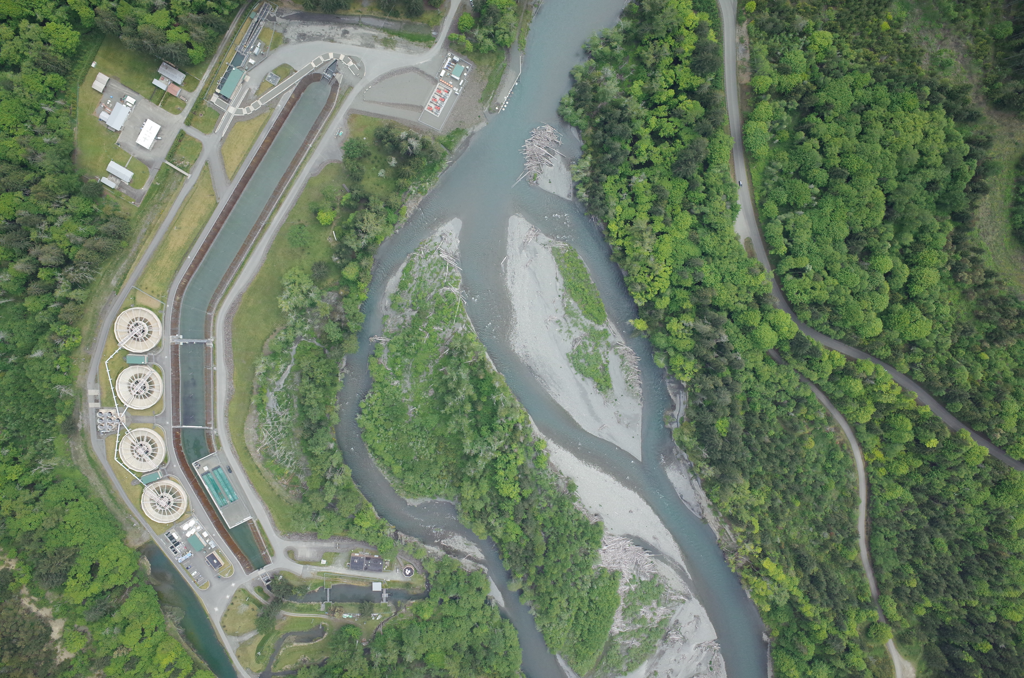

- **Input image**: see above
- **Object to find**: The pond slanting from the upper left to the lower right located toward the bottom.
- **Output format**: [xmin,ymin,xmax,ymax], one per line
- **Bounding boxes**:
[136,539,238,678]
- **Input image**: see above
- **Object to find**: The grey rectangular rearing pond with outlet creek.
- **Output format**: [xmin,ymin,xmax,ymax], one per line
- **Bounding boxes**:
[266,575,430,634]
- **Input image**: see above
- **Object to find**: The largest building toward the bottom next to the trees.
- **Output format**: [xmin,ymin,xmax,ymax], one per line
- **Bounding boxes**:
[346,554,384,573]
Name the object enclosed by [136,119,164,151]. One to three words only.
building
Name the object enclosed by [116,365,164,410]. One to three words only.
storage tank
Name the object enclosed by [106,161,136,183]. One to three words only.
house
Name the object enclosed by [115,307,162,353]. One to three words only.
storage tank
